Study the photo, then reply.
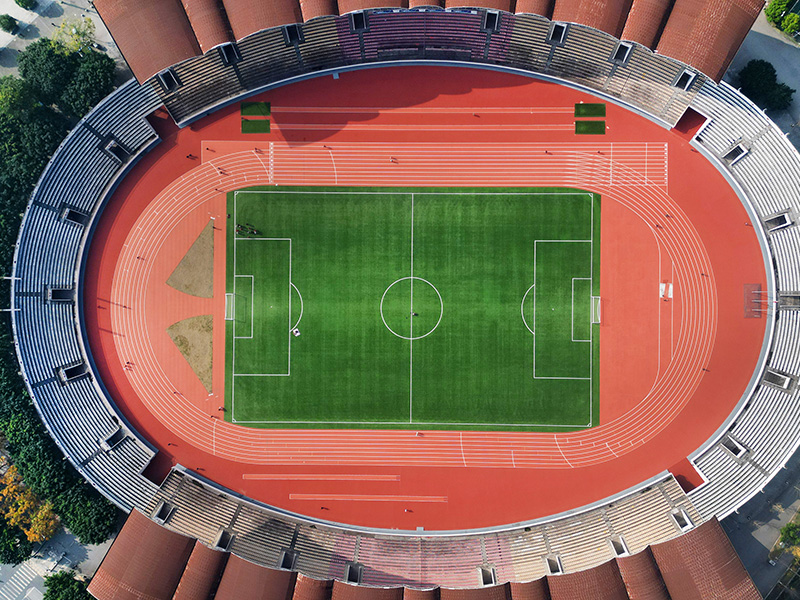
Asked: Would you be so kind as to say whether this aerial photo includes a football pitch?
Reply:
Yes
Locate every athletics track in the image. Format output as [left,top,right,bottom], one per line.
[66,66,800,530]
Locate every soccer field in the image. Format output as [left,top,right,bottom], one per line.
[225,185,601,433]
